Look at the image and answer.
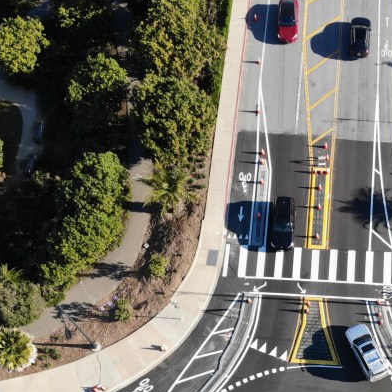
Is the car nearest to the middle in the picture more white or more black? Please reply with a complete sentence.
The color of the car nearest to the middle is black.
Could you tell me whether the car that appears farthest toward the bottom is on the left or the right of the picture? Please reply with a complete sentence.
The car that appears farthest toward the bottom is on the right side of the image.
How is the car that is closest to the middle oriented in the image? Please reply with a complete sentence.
In this picture, the car that is closest to the middle lies up and down.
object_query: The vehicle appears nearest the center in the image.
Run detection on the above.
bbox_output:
[270,197,298,251]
